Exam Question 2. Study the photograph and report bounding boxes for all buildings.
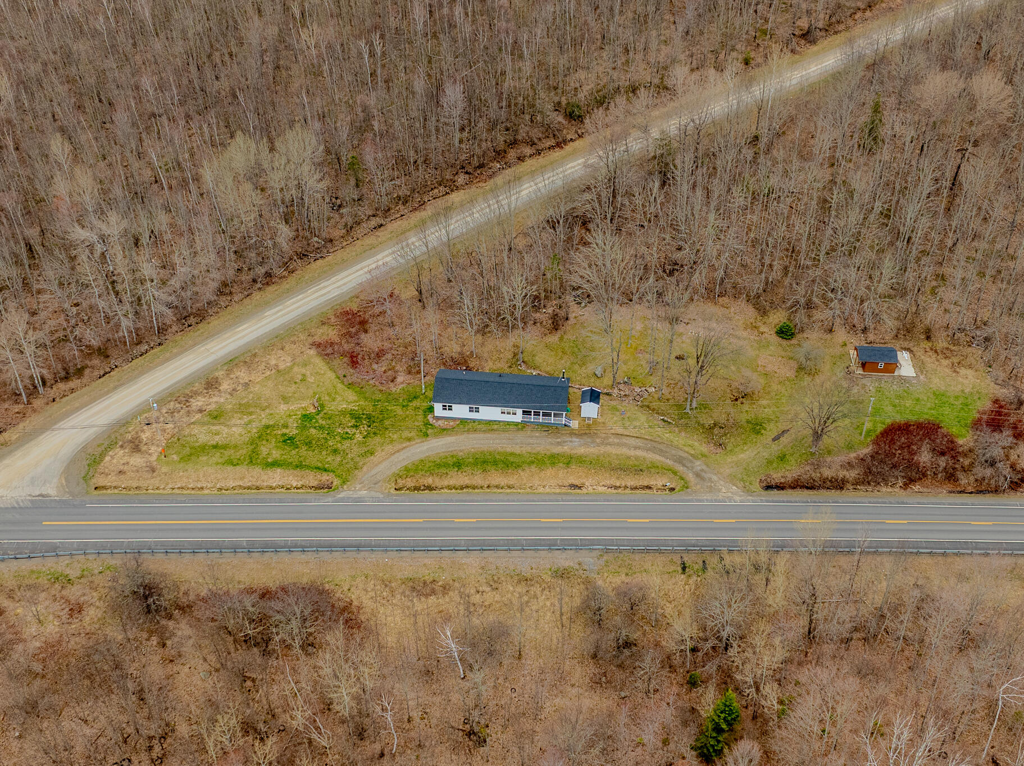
[580,388,600,418]
[432,369,570,428]
[853,347,899,373]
